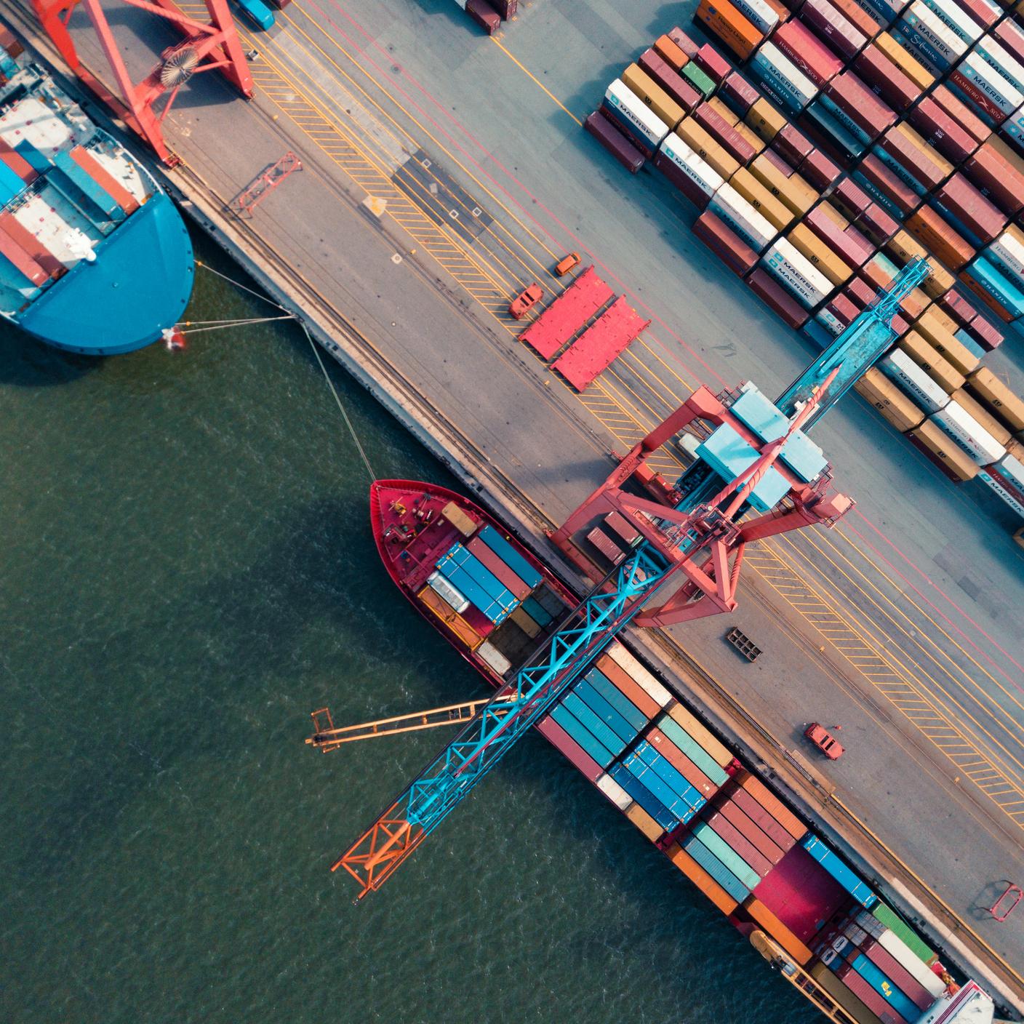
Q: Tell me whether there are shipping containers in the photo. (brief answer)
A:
Yes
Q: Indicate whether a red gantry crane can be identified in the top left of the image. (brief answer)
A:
Yes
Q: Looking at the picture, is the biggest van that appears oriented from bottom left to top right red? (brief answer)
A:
Yes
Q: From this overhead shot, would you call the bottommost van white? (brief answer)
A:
No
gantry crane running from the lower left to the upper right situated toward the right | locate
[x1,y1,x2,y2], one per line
[323,242,945,911]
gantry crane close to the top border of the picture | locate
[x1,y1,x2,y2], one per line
[33,0,265,178]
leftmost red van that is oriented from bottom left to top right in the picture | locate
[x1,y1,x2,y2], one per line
[509,285,543,320]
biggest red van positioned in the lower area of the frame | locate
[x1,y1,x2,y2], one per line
[802,723,840,759]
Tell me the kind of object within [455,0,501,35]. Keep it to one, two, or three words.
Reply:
shipping container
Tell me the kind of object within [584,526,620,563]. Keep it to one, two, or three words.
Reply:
shipping container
